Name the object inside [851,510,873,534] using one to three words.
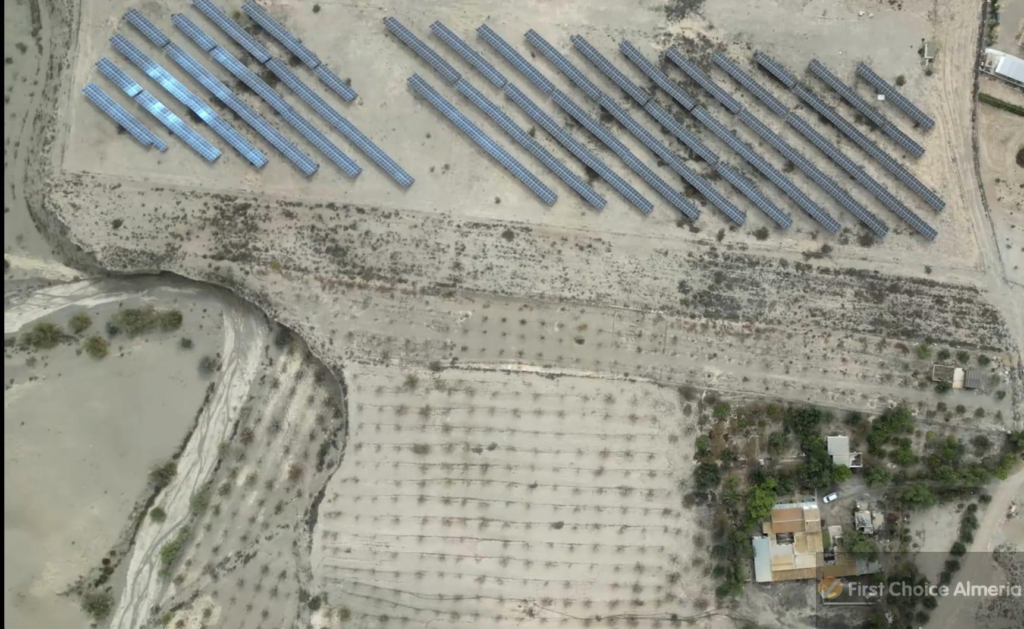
shed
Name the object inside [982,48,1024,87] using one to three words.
barn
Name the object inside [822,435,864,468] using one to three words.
house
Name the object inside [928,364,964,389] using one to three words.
shed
